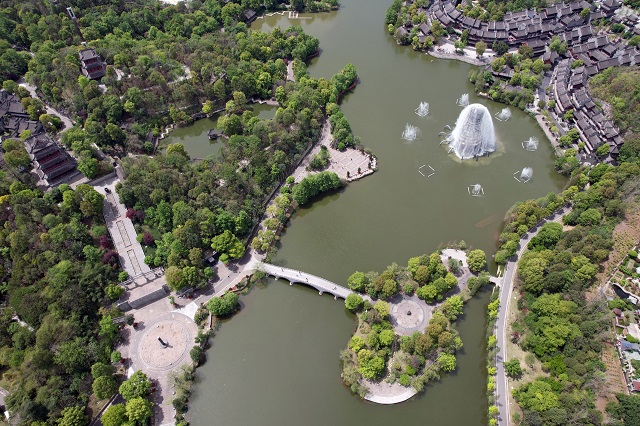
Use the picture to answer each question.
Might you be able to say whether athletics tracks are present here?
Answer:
No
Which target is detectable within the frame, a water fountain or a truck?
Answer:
water fountain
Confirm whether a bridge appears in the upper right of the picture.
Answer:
No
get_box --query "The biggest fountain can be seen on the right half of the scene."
[440,102,512,169]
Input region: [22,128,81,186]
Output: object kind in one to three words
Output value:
building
